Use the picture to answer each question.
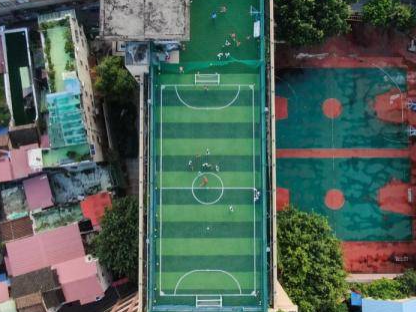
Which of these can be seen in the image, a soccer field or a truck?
soccer field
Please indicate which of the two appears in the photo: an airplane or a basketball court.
basketball court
